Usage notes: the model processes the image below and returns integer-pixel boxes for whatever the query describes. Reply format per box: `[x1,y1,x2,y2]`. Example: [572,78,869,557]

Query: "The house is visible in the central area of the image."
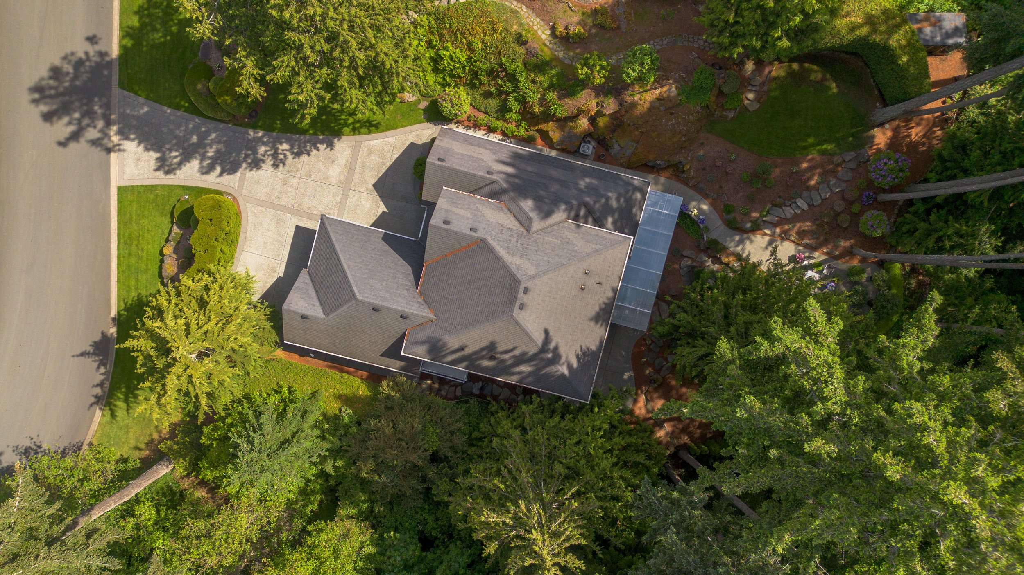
[281,124,683,405]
